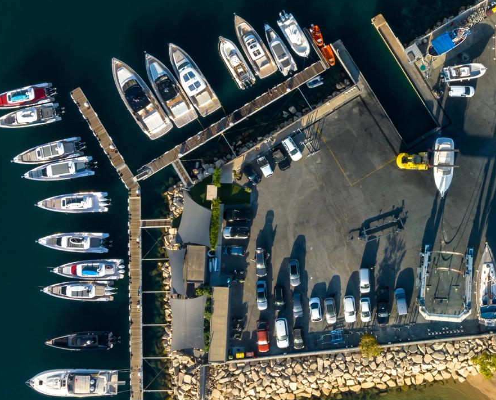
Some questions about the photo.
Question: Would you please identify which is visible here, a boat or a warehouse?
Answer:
boat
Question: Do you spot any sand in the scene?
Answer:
Yes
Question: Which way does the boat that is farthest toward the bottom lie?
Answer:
horizontally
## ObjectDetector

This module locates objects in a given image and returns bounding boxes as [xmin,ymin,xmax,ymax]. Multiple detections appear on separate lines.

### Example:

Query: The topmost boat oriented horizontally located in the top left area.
[0,83,60,108]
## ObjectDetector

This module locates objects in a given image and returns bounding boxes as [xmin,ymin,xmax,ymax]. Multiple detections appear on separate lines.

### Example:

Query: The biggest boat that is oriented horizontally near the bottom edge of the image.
[26,371,125,397]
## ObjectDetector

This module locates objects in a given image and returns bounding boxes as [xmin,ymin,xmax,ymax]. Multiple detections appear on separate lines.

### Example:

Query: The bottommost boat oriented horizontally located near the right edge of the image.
[439,63,487,82]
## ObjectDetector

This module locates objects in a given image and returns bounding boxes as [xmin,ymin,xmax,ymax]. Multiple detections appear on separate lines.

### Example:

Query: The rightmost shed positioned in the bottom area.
[209,284,233,363]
